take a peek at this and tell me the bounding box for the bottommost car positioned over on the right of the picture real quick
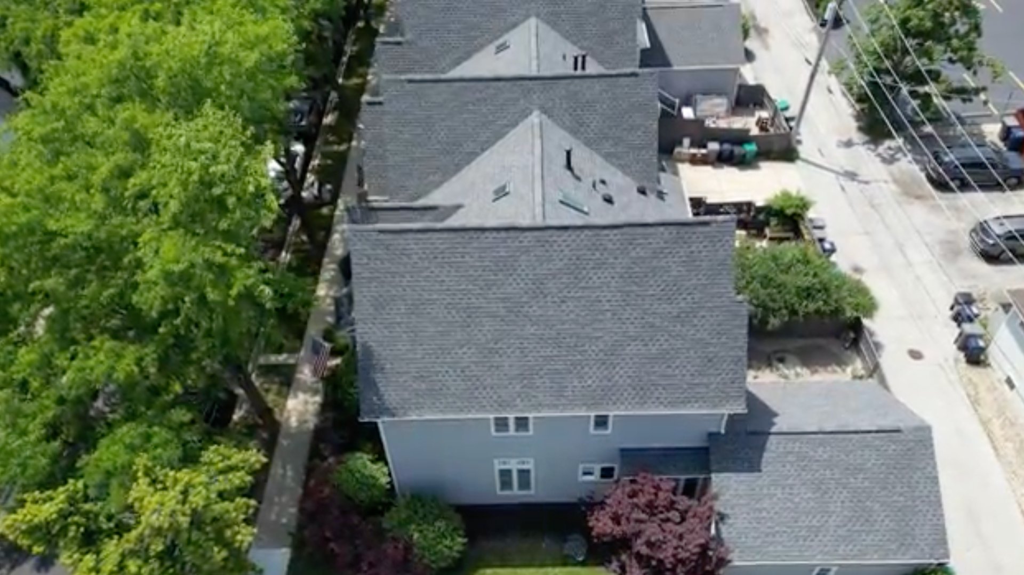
[967,218,1024,264]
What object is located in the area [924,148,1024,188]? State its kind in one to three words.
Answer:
car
